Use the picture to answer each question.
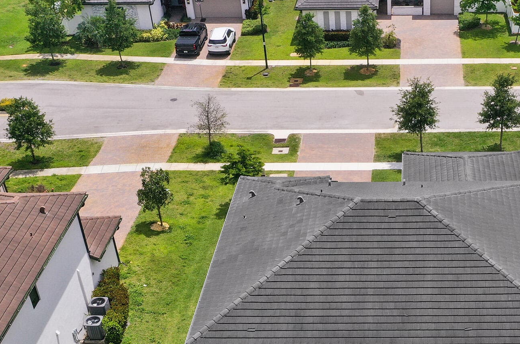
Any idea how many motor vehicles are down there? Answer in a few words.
2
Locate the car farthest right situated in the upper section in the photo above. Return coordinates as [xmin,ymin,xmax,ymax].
[208,23,238,50]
